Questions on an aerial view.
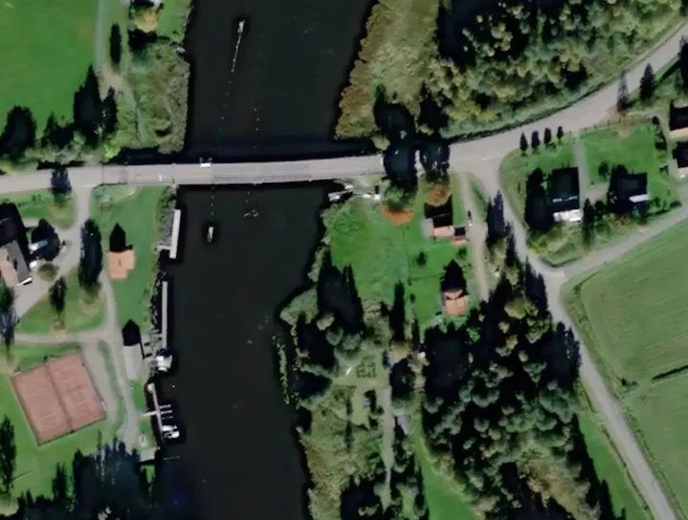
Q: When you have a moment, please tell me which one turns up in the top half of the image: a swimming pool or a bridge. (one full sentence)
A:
Visible in the top half of the image is a bridge.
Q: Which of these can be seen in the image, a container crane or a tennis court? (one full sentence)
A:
It is a tennis court that can be seen here.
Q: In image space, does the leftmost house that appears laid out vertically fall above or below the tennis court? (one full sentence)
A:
The position of the leftmost house that appears laid out vertically is above the tennis court.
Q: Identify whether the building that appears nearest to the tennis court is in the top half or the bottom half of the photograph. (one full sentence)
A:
The bottom half of the photo is where the building that appears nearest to the tennis court is.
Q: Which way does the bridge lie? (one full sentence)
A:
In this picture, the bridge is oriented from side to side.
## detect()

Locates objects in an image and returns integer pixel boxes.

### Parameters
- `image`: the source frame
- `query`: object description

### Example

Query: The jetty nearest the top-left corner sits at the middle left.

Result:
[164,210,180,258]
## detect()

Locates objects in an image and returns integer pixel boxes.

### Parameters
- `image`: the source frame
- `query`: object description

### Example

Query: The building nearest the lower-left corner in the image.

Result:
[118,340,146,381]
